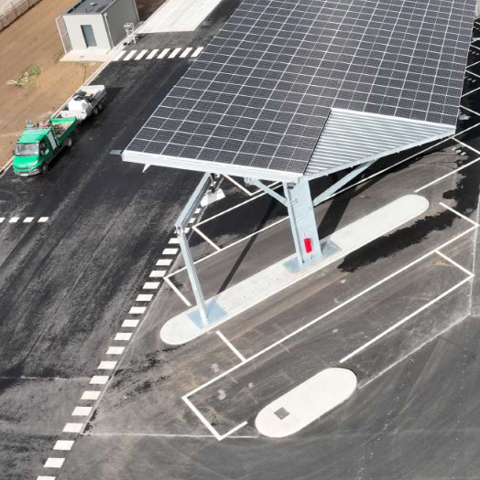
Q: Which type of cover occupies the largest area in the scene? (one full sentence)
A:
What you mostly see from above here is paved ground.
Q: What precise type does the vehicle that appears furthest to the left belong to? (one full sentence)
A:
The vehicle that appears furthest to the left appears to be a truck.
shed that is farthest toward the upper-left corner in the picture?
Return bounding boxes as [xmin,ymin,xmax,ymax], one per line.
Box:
[58,0,143,47]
